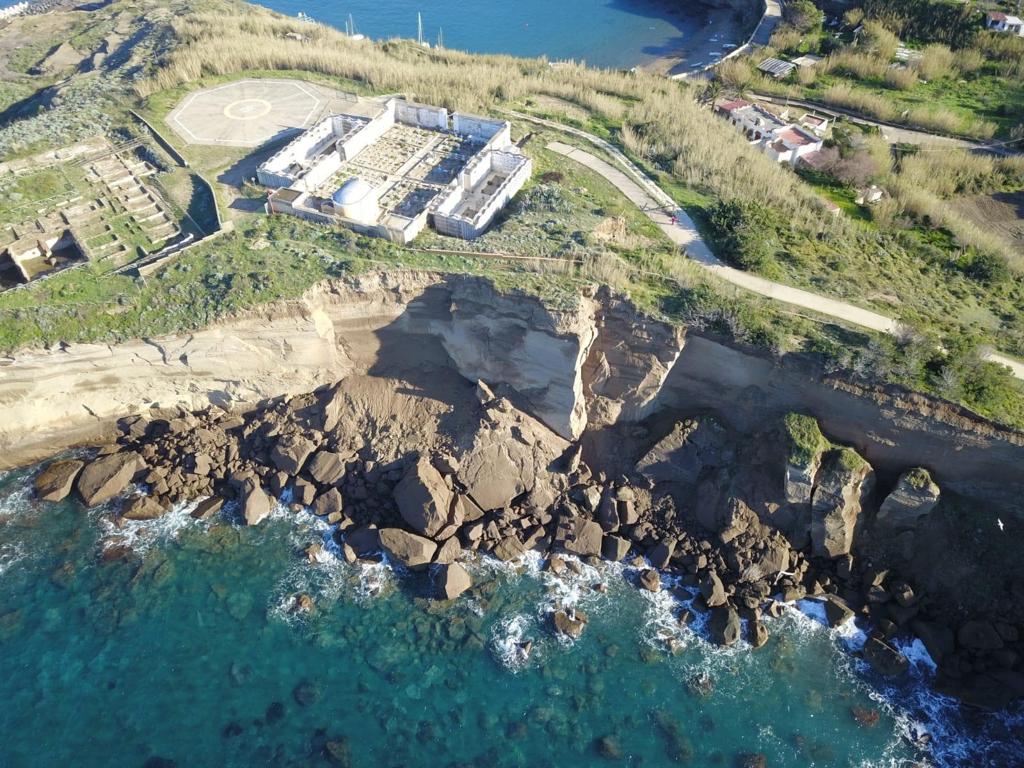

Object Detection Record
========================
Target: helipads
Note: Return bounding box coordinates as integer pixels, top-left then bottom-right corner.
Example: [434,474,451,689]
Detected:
[164,77,329,147]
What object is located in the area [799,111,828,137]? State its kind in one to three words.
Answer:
building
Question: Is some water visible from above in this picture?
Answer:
Yes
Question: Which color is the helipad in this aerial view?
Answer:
white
